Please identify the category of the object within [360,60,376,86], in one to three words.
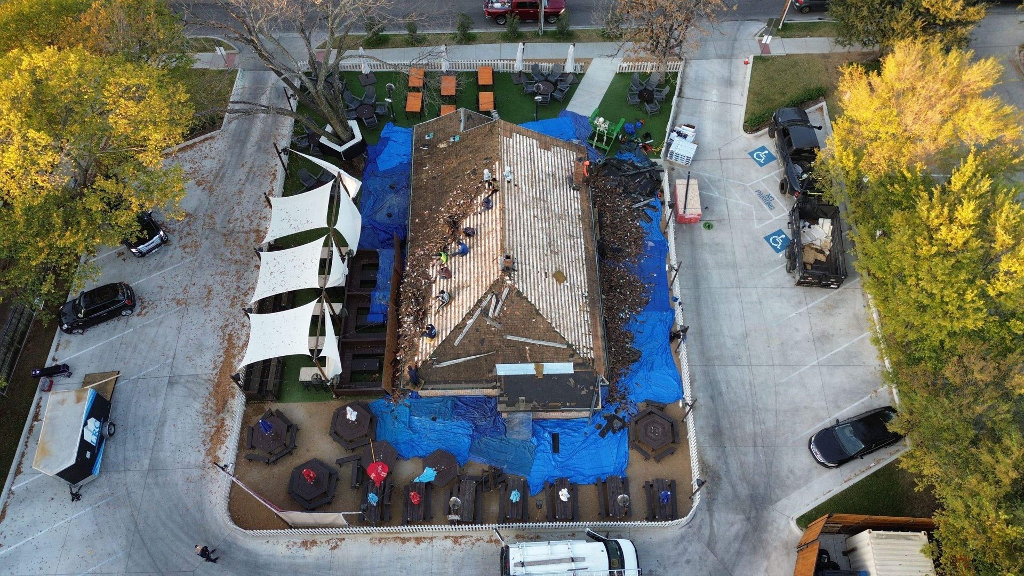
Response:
umbrella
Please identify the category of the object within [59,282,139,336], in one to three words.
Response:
car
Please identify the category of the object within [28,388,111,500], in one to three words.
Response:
trailer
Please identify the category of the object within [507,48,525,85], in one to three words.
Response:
umbrella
